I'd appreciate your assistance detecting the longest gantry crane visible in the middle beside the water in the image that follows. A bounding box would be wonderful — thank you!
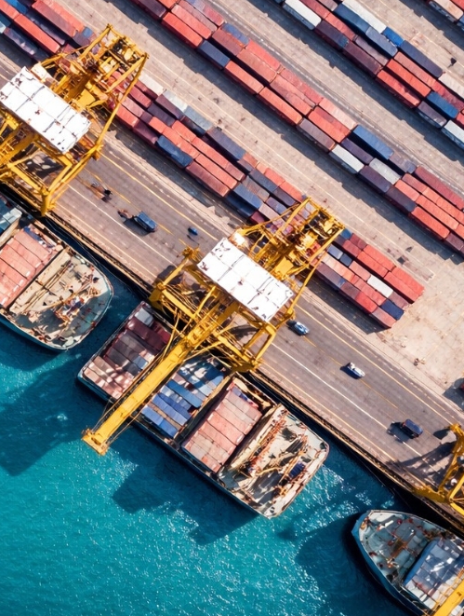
[76,182,342,460]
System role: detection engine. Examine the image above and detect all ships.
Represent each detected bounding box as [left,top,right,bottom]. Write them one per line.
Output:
[0,192,115,354]
[348,508,464,616]
[76,302,327,519]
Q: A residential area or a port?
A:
port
